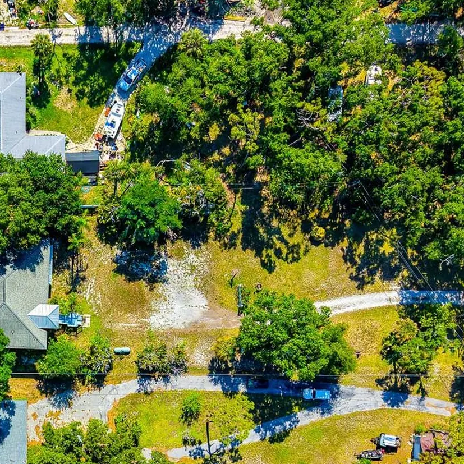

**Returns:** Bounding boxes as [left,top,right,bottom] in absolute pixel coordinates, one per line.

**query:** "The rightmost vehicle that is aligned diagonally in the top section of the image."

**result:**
[119,60,143,93]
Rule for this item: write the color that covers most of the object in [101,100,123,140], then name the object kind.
white boat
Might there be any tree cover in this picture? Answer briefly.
Yes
